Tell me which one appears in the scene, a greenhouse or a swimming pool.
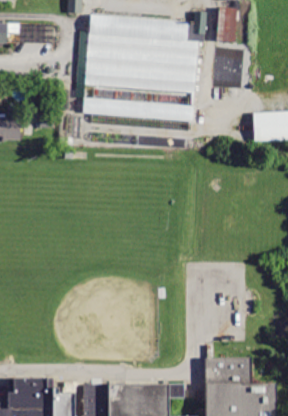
greenhouse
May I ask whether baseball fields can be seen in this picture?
Yes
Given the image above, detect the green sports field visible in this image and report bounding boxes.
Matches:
[0,150,196,366]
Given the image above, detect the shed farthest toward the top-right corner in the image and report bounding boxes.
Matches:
[218,7,240,43]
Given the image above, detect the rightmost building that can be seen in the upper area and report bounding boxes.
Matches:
[254,111,288,142]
